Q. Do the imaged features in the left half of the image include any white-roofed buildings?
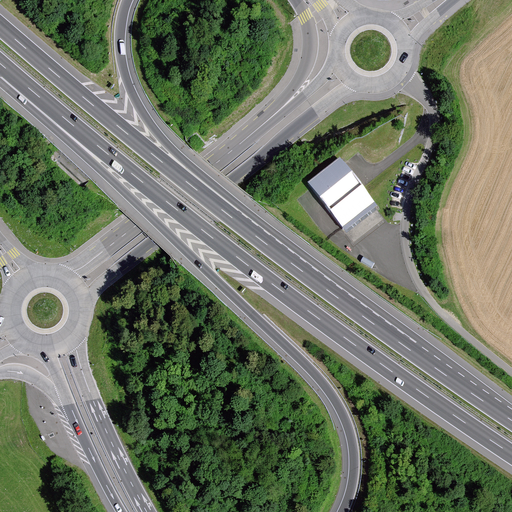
No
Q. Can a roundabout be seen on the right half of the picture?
Yes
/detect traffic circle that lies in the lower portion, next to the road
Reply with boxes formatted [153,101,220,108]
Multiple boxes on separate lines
[0,232,126,406]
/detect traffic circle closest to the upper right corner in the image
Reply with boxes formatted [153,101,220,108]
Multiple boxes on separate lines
[303,0,441,114]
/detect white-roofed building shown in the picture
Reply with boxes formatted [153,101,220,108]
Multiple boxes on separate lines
[308,158,378,232]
